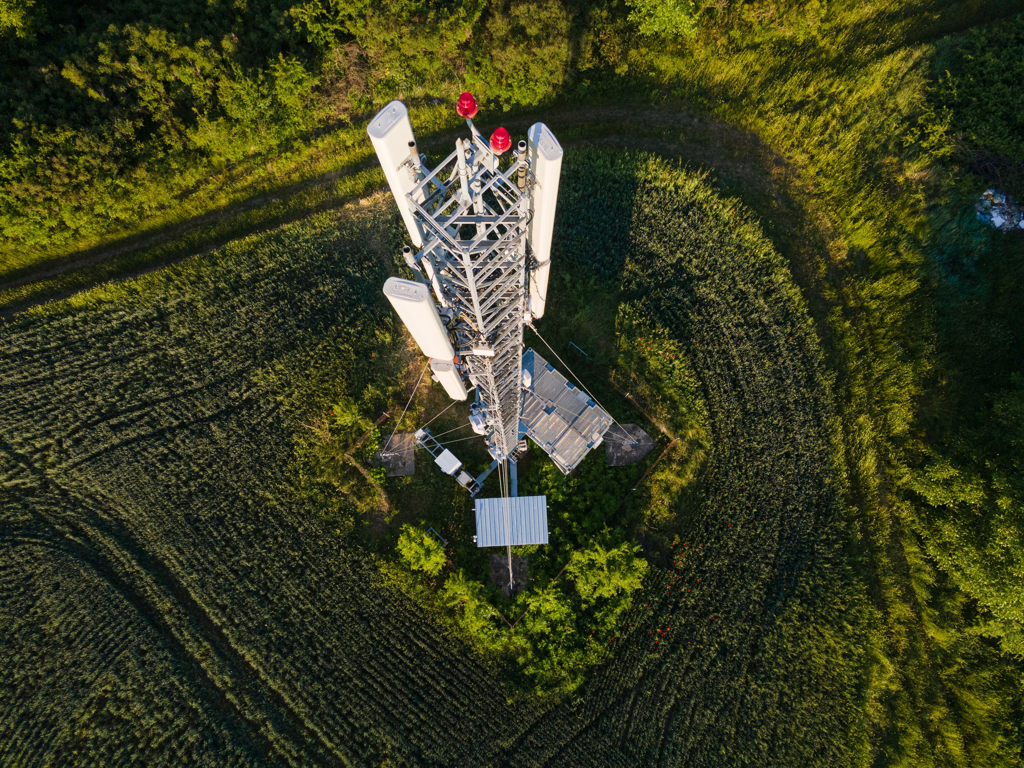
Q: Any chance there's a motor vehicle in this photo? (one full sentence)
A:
No, there appears to be no motor vehicle in this shot.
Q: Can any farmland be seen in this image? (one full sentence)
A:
Yes, some farmland is visible.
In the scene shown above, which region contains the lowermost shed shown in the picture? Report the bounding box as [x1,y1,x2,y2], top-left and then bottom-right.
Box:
[471,496,551,547]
